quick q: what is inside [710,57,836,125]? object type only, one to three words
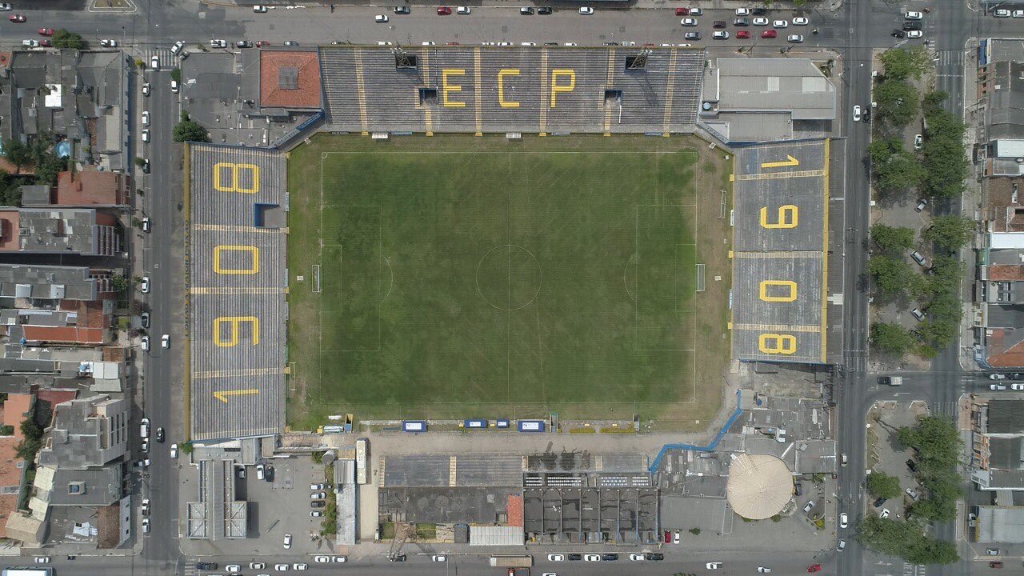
building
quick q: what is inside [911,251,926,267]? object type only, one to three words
car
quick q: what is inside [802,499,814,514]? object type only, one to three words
vehicle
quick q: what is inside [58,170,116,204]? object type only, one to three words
house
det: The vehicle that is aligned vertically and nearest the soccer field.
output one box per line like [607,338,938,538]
[358,438,370,484]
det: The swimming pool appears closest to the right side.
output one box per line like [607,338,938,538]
[55,139,70,157]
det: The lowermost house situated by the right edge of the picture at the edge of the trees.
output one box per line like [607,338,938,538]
[971,503,1024,542]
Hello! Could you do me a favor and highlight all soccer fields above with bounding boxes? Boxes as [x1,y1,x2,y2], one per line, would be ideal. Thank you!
[289,134,735,430]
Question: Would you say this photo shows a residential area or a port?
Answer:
residential area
